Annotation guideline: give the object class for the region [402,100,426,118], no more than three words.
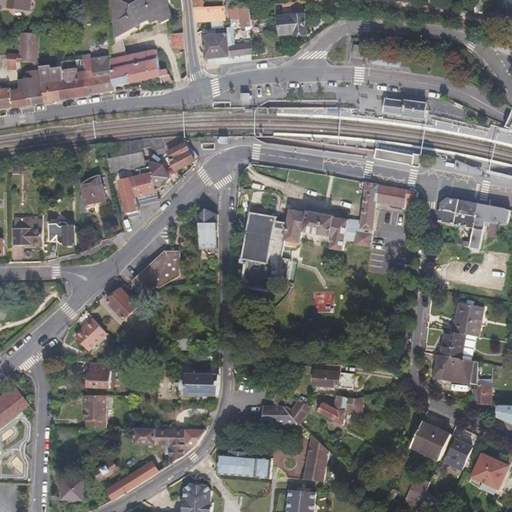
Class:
building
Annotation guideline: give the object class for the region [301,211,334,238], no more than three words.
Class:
house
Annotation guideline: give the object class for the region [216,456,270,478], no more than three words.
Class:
building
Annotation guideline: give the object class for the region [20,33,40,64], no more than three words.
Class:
barn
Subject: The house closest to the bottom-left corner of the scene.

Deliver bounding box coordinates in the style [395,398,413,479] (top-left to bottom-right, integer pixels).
[60,482,85,502]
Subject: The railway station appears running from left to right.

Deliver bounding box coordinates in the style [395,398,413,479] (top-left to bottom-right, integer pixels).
[274,108,512,170]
